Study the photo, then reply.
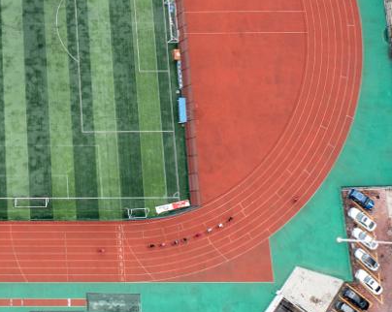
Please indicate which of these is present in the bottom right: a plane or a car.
car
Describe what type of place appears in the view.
sports ground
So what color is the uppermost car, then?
blue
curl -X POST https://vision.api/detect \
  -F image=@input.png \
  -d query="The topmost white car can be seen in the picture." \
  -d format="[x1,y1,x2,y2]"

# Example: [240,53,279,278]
[348,208,377,231]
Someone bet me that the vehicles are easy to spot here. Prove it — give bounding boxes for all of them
[347,186,376,211]
[348,208,377,231]
[354,270,383,295]
[352,248,381,272]
[350,227,379,252]
[340,285,369,311]
[333,299,357,312]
